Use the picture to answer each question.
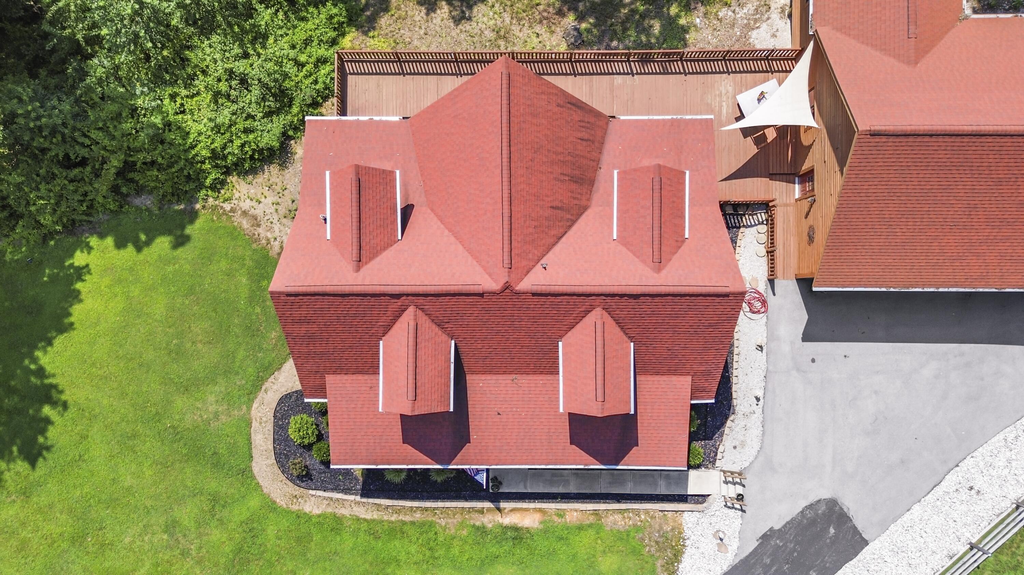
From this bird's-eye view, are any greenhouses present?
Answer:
No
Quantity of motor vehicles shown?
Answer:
none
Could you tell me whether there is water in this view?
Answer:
No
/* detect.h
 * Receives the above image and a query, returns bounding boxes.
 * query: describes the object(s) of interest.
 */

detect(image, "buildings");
[269,54,748,470]
[793,0,1024,291]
